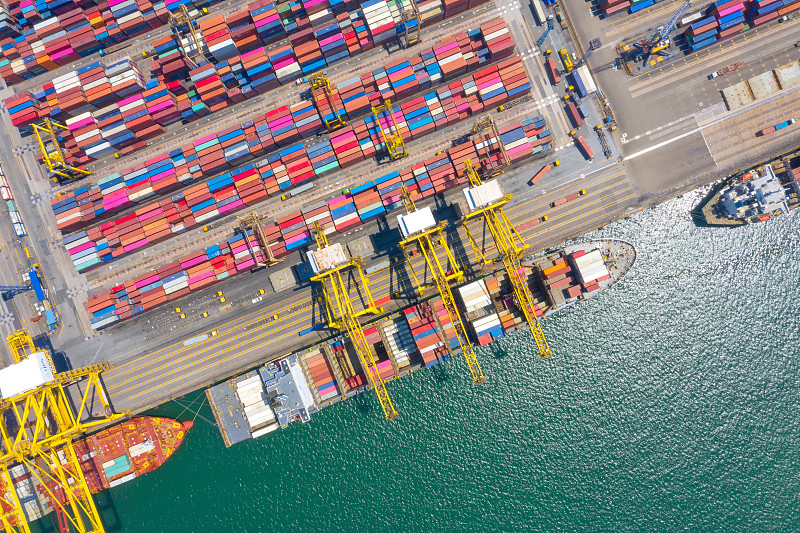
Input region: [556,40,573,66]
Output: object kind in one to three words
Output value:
work vehicle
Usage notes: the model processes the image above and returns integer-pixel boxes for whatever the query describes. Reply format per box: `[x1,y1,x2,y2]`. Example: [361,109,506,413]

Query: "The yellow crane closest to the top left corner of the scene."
[28,115,95,181]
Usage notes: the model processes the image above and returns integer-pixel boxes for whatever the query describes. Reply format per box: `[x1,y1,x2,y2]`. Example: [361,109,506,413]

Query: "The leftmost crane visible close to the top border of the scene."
[157,9,204,73]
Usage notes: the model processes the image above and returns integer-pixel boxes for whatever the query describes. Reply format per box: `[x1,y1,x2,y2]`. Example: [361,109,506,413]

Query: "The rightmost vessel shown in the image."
[699,148,800,227]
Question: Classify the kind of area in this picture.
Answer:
port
